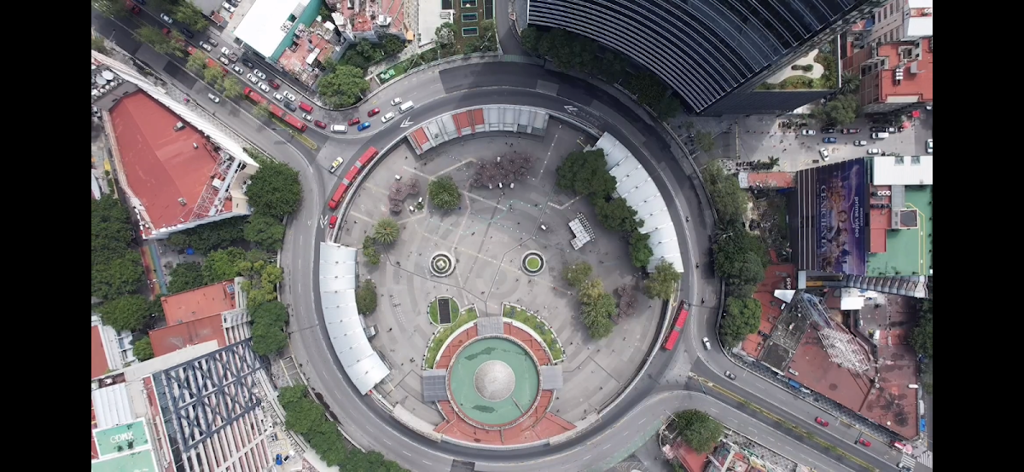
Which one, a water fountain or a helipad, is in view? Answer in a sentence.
Visible in the photo is a water fountain.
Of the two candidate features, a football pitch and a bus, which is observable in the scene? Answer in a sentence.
Looking from above, you can make out a bus.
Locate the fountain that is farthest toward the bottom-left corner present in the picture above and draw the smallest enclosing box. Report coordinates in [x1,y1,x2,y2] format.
[429,251,455,277]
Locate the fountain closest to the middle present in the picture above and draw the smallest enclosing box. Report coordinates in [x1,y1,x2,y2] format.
[520,250,545,275]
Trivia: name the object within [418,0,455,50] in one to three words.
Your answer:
building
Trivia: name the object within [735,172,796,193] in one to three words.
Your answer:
house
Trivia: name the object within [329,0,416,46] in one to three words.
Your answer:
building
